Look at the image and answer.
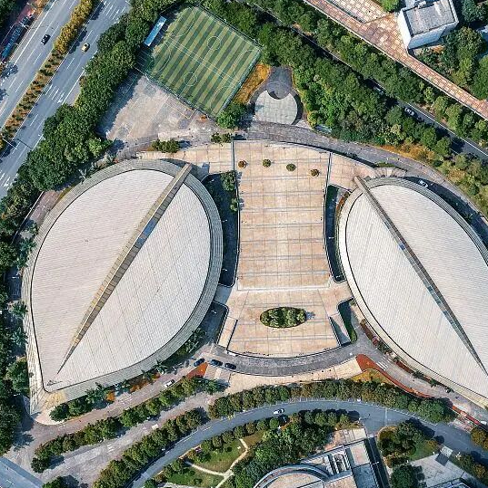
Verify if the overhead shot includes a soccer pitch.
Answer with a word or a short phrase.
Yes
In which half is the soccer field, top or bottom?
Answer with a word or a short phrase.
top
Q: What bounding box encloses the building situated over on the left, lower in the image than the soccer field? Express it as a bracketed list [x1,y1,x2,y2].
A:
[26,158,222,416]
